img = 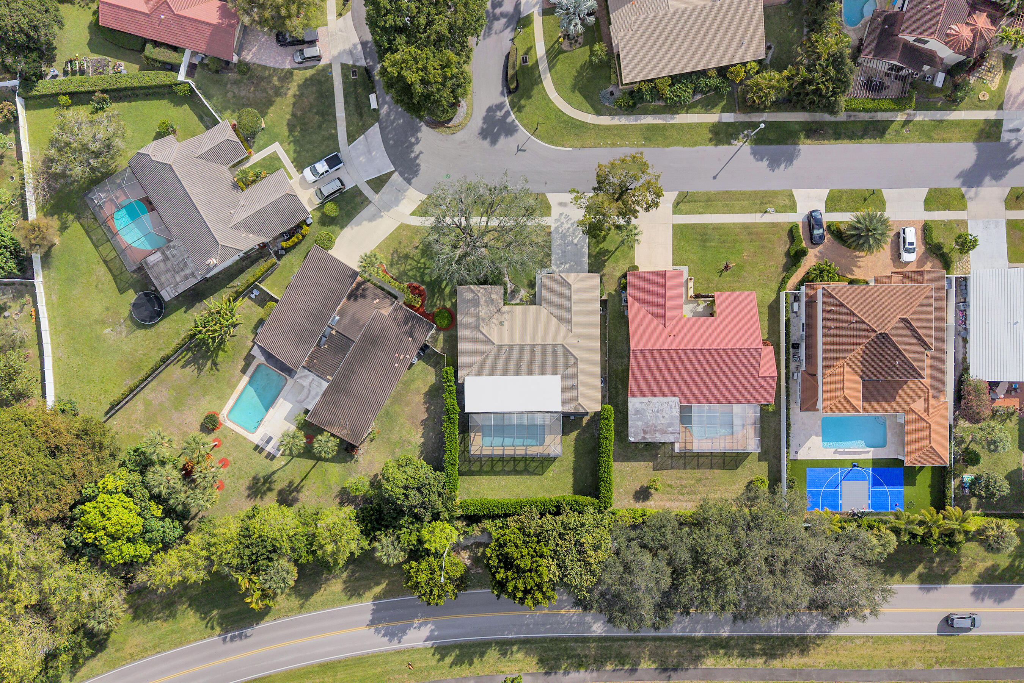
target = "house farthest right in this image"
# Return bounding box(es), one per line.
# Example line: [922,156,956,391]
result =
[959,269,1024,381]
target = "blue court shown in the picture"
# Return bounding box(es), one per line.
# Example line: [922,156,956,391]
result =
[807,468,904,511]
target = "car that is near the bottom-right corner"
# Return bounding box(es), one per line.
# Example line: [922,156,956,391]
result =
[944,612,980,630]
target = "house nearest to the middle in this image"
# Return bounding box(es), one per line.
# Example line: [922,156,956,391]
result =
[457,273,601,412]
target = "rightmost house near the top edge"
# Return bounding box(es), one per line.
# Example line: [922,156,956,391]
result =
[853,0,999,77]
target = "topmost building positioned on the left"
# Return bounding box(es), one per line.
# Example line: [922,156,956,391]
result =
[98,0,250,64]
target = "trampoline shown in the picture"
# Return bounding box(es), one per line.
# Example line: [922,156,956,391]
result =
[125,290,166,324]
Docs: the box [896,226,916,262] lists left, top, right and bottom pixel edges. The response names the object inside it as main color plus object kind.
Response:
white car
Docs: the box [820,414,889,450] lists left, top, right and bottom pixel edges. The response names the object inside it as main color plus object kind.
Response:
blue swimming pool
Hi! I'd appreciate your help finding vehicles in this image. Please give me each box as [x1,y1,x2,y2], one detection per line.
[292,47,324,65]
[896,226,916,262]
[806,210,825,245]
[944,612,980,630]
[276,30,319,48]
[311,177,347,204]
[301,151,346,181]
